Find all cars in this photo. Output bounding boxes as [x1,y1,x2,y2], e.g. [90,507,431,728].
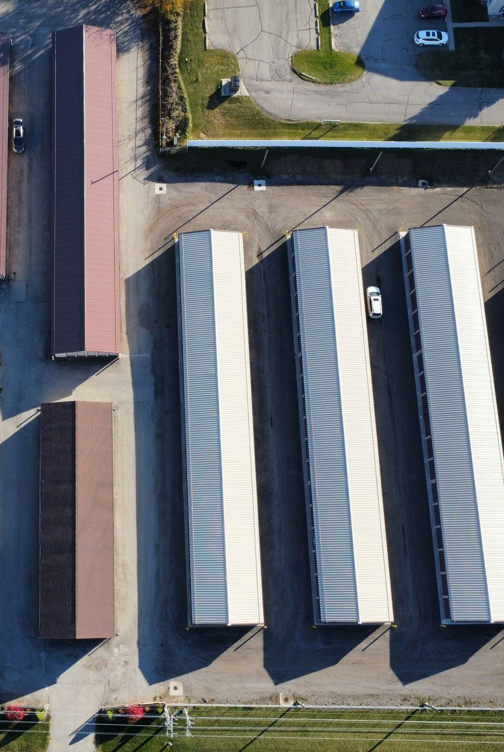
[419,3,448,20]
[331,0,360,14]
[413,31,448,47]
[11,119,25,155]
[365,286,382,319]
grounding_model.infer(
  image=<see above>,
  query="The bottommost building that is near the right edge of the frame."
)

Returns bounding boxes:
[397,223,504,623]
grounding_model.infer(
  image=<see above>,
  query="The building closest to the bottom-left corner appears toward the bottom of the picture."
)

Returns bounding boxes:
[37,400,117,639]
